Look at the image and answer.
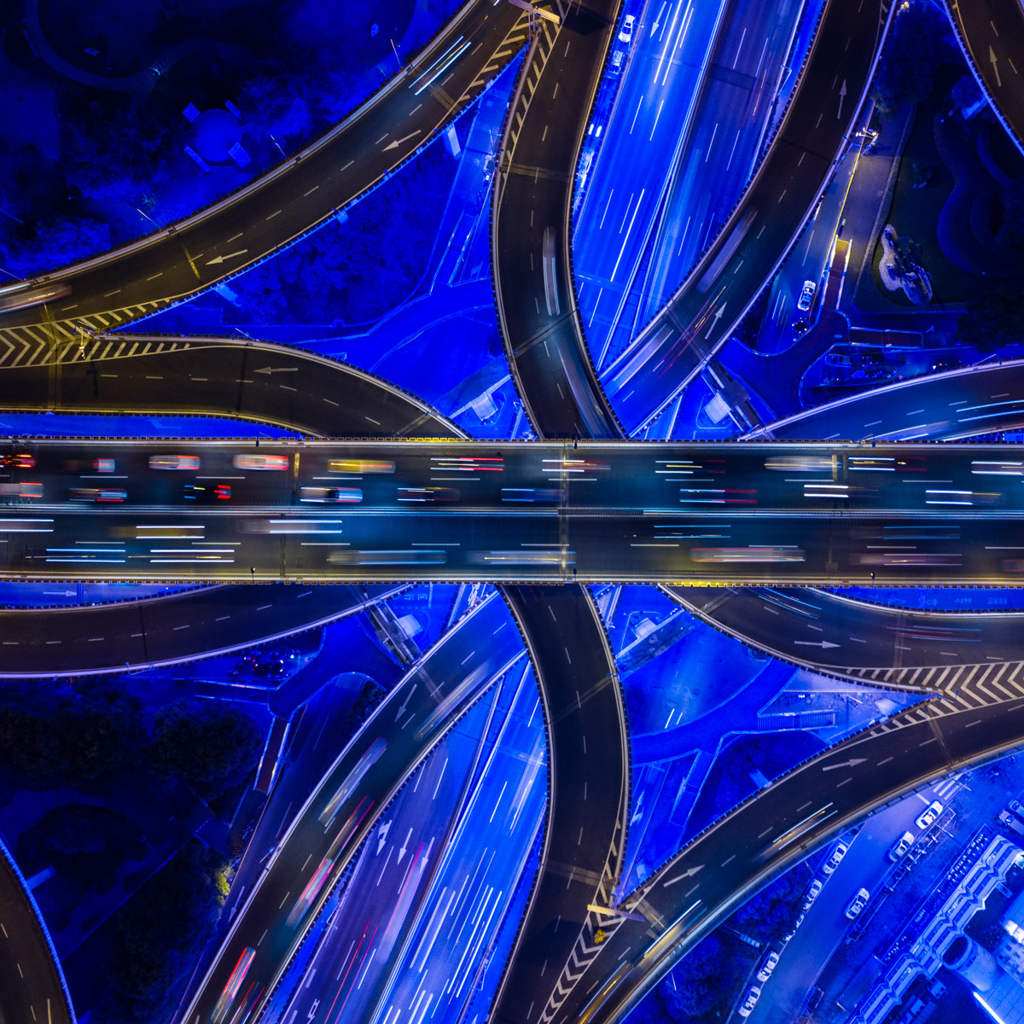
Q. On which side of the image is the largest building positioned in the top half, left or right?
left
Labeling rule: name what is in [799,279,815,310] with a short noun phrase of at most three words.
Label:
car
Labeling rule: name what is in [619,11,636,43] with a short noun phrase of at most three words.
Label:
car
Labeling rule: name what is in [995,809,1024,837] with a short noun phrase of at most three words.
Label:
vehicle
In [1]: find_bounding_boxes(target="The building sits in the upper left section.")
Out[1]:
[179,96,250,169]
